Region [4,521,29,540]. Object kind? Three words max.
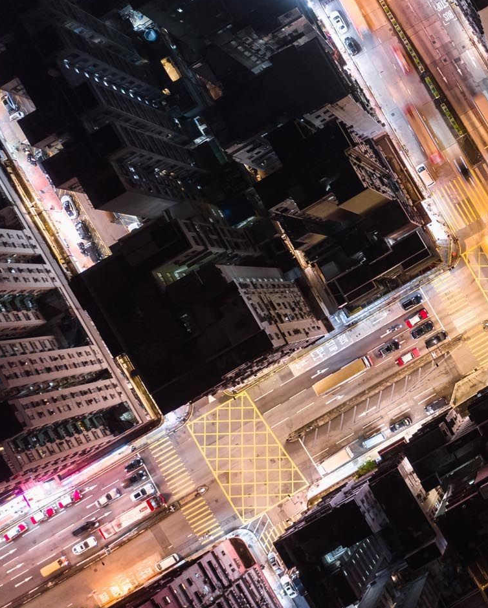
car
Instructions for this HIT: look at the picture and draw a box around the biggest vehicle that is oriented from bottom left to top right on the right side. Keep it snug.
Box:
[312,352,377,397]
